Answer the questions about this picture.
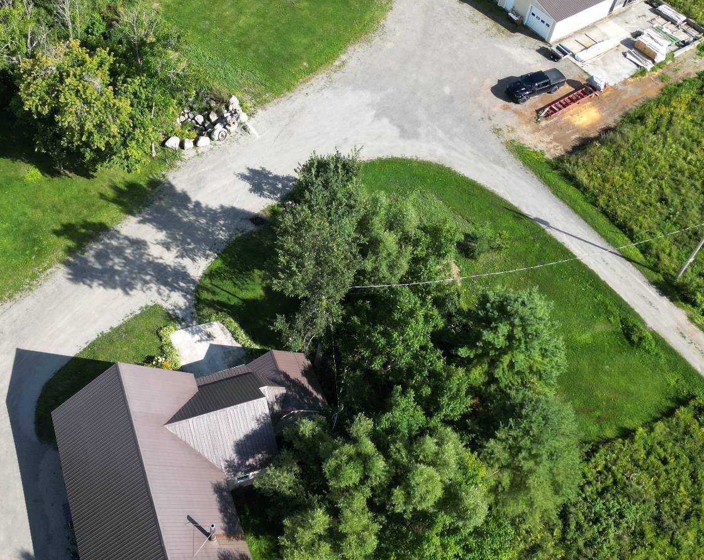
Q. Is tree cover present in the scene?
Yes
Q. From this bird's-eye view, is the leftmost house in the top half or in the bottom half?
bottom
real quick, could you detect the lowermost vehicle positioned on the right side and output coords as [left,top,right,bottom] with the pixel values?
[505,57,574,101]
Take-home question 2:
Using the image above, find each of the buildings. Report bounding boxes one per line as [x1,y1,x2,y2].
[494,0,636,40]
[53,349,329,560]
